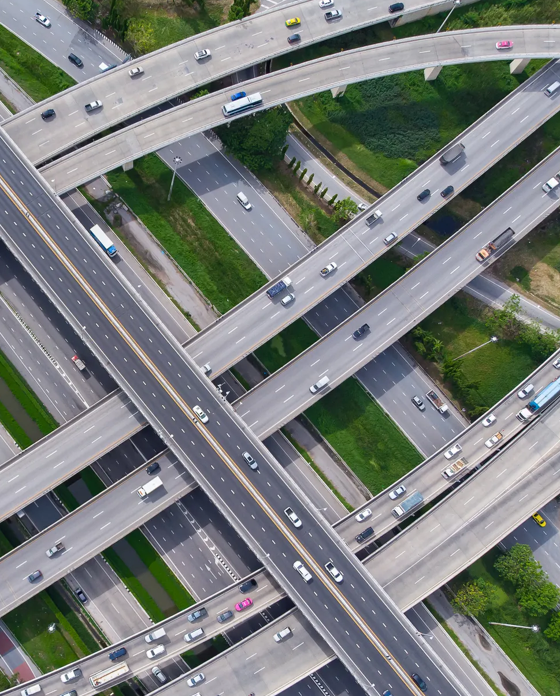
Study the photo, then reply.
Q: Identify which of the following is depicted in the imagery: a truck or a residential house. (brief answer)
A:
truck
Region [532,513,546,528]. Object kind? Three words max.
car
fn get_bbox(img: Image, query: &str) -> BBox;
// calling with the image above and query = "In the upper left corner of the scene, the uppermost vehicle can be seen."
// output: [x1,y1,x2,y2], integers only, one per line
[33,12,51,27]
